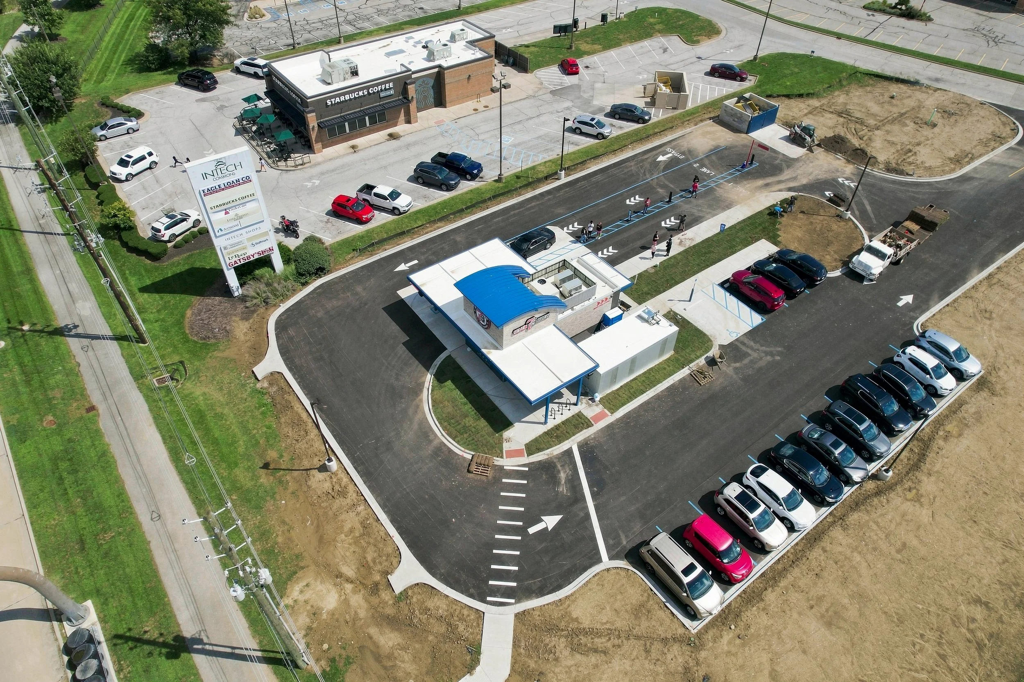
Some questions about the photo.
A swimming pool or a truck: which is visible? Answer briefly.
truck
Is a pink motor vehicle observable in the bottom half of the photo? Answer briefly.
Yes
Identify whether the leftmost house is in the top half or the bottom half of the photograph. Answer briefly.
top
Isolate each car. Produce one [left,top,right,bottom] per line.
[108,147,161,181]
[571,113,613,139]
[752,255,811,295]
[412,160,460,190]
[791,416,871,482]
[817,394,895,459]
[234,57,270,76]
[887,340,958,394]
[609,102,653,123]
[739,455,820,528]
[89,117,140,140]
[708,62,749,81]
[708,474,789,551]
[837,371,916,435]
[507,227,557,259]
[681,507,756,582]
[329,192,376,223]
[144,208,202,242]
[912,324,983,378]
[864,357,939,416]
[728,269,788,311]
[178,69,215,90]
[560,56,581,74]
[765,434,847,504]
[772,244,829,281]
[636,524,726,619]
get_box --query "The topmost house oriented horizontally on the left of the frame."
[264,19,494,151]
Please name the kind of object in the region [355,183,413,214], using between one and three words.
truck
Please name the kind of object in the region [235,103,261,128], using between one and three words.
umbrella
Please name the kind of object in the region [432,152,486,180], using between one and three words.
truck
